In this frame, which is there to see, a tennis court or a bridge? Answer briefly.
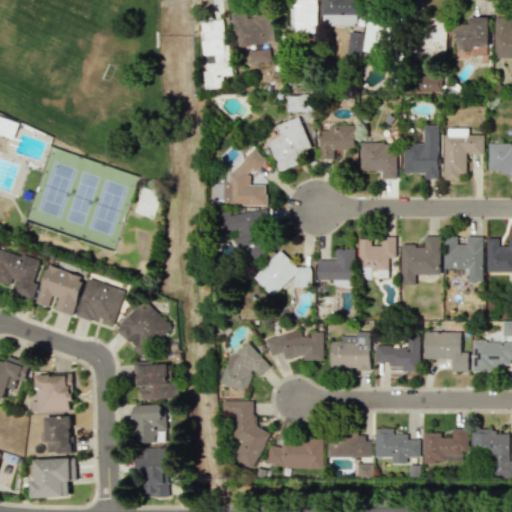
tennis court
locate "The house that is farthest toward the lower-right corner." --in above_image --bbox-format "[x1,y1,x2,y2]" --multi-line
[473,430,512,478]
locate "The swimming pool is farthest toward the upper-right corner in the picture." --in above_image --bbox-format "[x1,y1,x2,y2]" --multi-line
[458,63,476,81]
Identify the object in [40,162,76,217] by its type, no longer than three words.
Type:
tennis court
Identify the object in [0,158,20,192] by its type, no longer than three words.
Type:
swimming pool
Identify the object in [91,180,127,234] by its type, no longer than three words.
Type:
tennis court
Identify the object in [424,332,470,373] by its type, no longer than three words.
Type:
house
